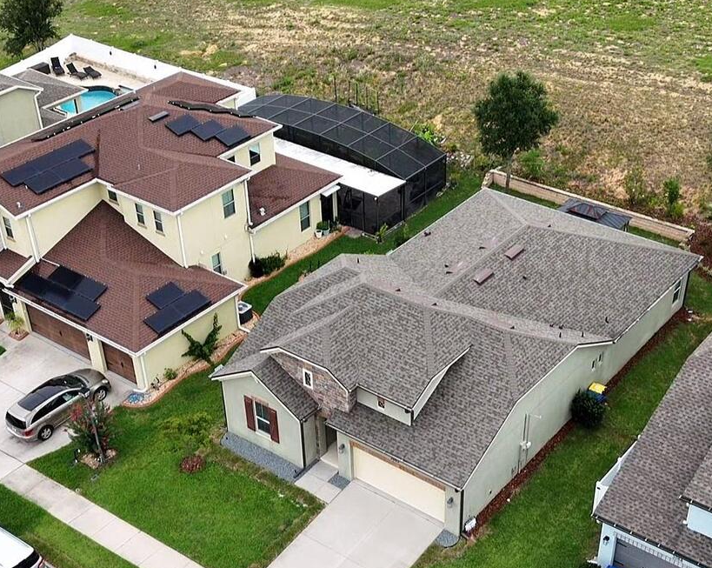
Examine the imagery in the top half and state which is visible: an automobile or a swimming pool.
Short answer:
swimming pool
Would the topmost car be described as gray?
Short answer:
Yes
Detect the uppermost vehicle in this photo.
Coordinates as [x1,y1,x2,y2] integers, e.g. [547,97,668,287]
[3,365,112,440]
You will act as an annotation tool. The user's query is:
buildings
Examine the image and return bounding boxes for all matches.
[590,333,712,568]
[208,188,702,541]
[0,72,342,391]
